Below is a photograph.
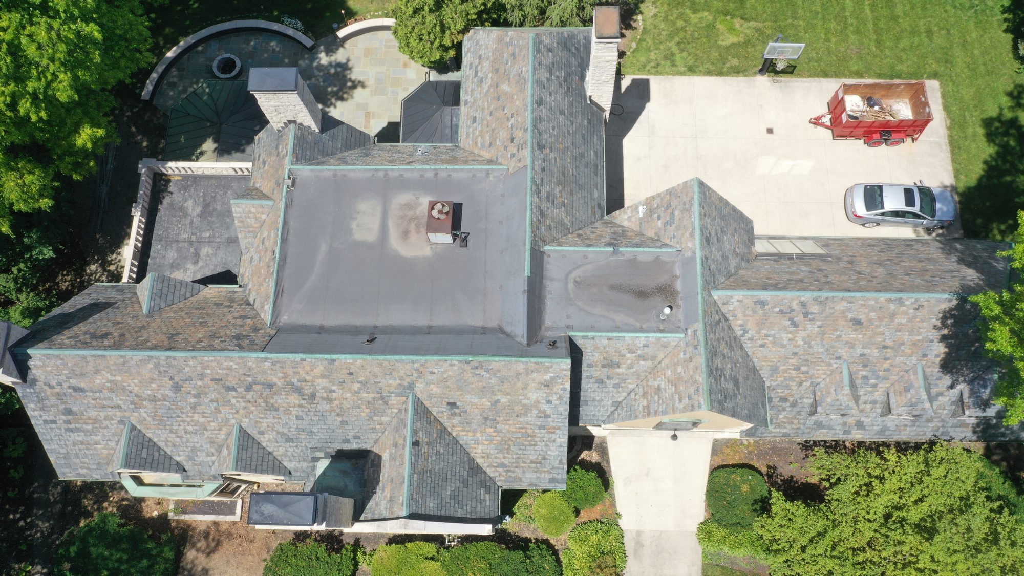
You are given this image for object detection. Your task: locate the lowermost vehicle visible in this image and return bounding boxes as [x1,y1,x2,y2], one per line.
[843,180,959,233]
